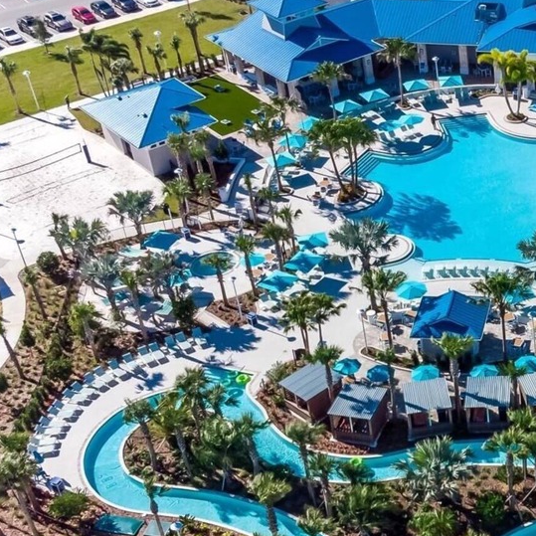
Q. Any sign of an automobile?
Yes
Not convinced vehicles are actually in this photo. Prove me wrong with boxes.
[9,10,38,35]
[0,22,24,44]
[85,0,118,17]
[40,3,72,29]
[108,0,137,9]
[65,2,98,23]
